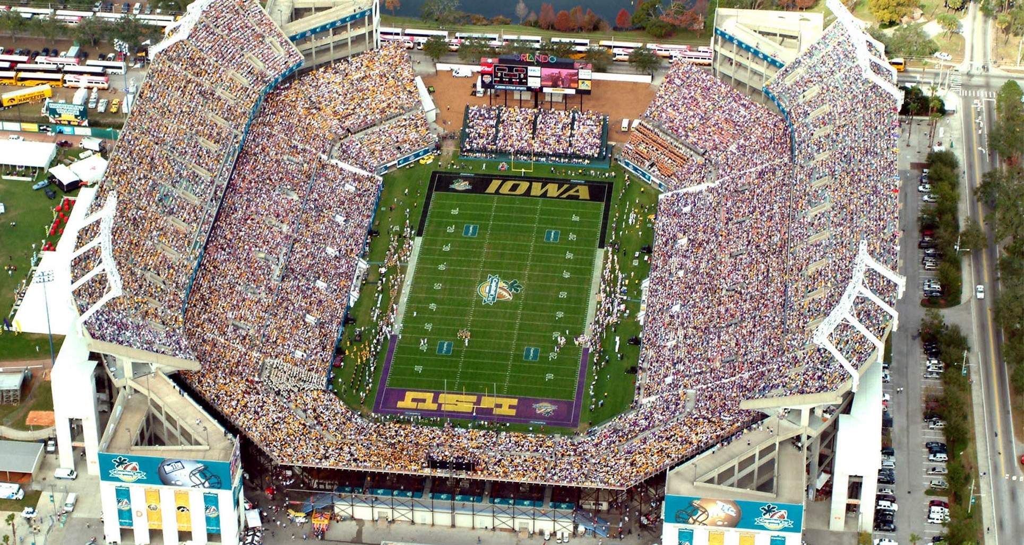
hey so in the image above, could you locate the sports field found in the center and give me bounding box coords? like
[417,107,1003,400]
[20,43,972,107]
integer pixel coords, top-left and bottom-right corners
[388,192,604,389]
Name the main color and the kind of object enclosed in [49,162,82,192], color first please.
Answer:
white tent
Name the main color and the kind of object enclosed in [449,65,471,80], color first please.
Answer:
white vehicle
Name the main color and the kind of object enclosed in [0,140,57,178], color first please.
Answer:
white tent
